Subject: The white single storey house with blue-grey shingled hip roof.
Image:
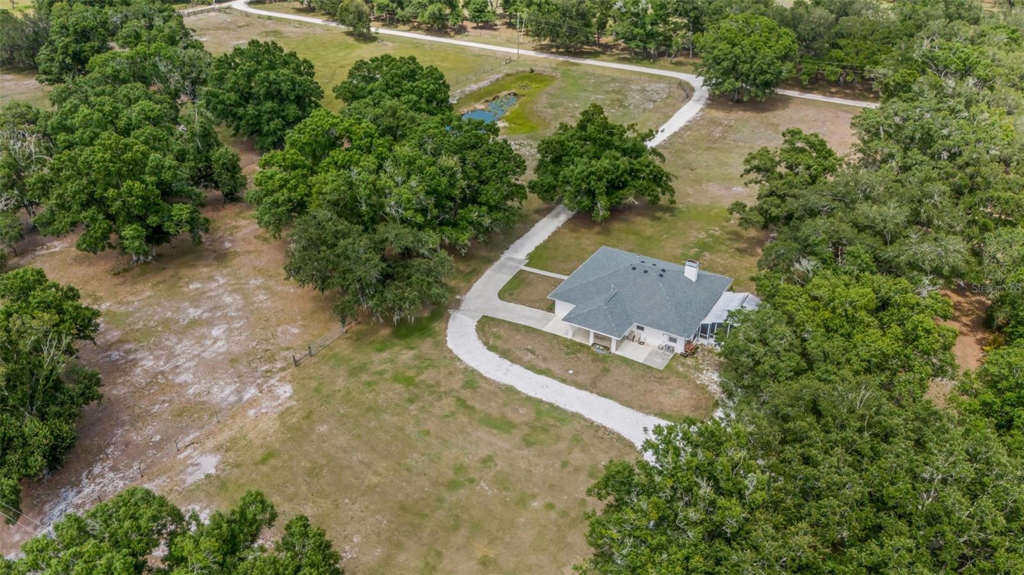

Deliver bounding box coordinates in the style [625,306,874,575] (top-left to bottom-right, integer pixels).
[547,246,759,355]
